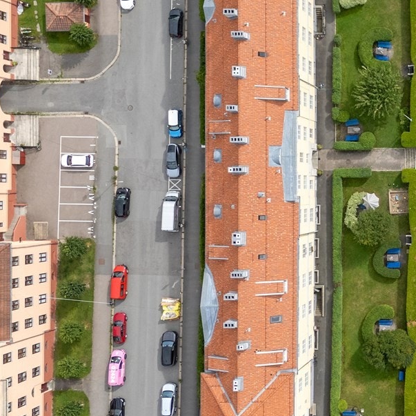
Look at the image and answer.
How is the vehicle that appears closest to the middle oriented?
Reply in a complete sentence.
The vehicle that appears closest to the middle is laid out vertically.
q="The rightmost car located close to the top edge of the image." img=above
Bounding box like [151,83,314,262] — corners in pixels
[168,9,184,39]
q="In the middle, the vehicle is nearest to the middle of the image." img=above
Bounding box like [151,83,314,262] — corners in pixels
[162,192,182,232]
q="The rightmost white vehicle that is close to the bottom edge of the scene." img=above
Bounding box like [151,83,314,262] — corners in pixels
[161,383,178,416]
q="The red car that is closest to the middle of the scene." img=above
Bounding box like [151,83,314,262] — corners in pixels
[110,265,128,300]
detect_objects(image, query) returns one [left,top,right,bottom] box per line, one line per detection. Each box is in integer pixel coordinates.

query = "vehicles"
[108,349,126,386]
[114,189,131,217]
[63,154,94,169]
[168,9,184,39]
[165,144,182,177]
[122,0,136,9]
[168,110,183,137]
[109,398,127,416]
[161,383,178,416]
[110,265,128,300]
[162,192,182,232]
[163,331,179,365]
[112,313,129,343]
